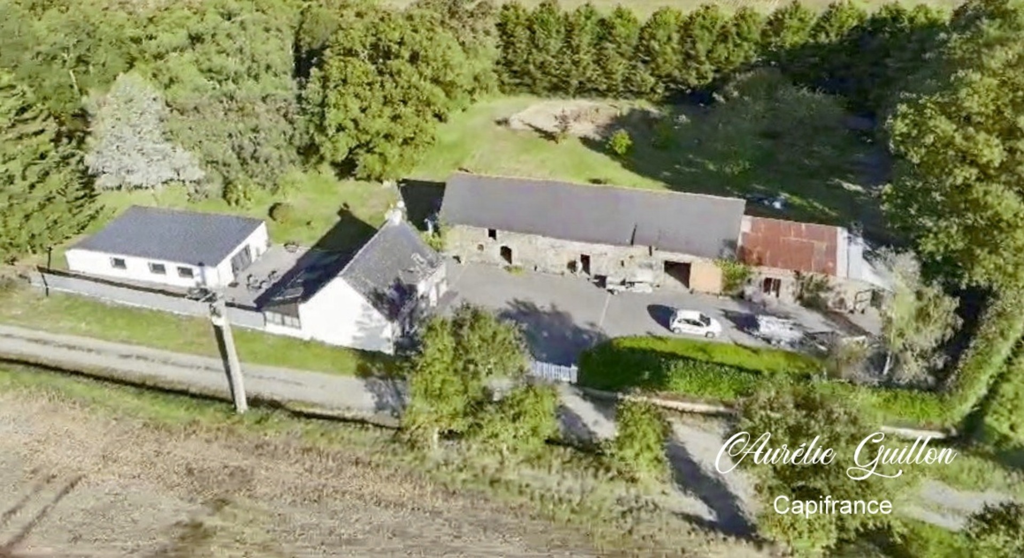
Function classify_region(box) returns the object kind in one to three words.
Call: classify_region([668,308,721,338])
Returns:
car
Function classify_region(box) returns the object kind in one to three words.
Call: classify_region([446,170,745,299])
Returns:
barn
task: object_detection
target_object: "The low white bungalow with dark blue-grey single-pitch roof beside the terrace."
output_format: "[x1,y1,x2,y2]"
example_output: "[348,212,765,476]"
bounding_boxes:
[57,203,265,288]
